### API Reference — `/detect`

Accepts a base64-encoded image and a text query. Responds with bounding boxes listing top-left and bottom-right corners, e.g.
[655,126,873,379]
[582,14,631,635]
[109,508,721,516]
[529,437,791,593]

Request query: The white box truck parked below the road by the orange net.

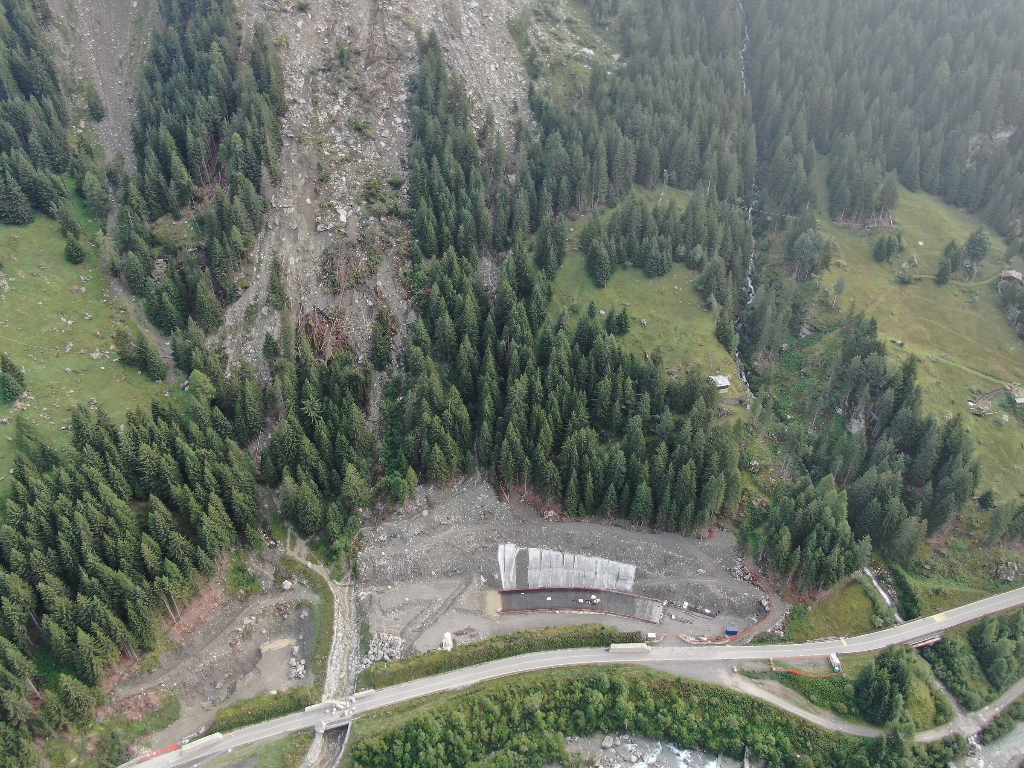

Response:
[825,648,842,668]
